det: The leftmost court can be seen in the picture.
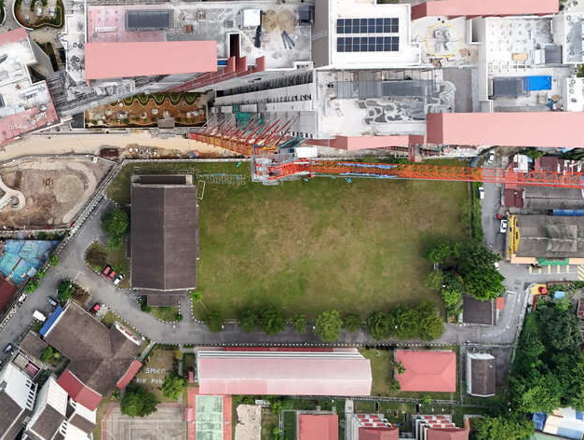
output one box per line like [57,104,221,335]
[105,404,186,440]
